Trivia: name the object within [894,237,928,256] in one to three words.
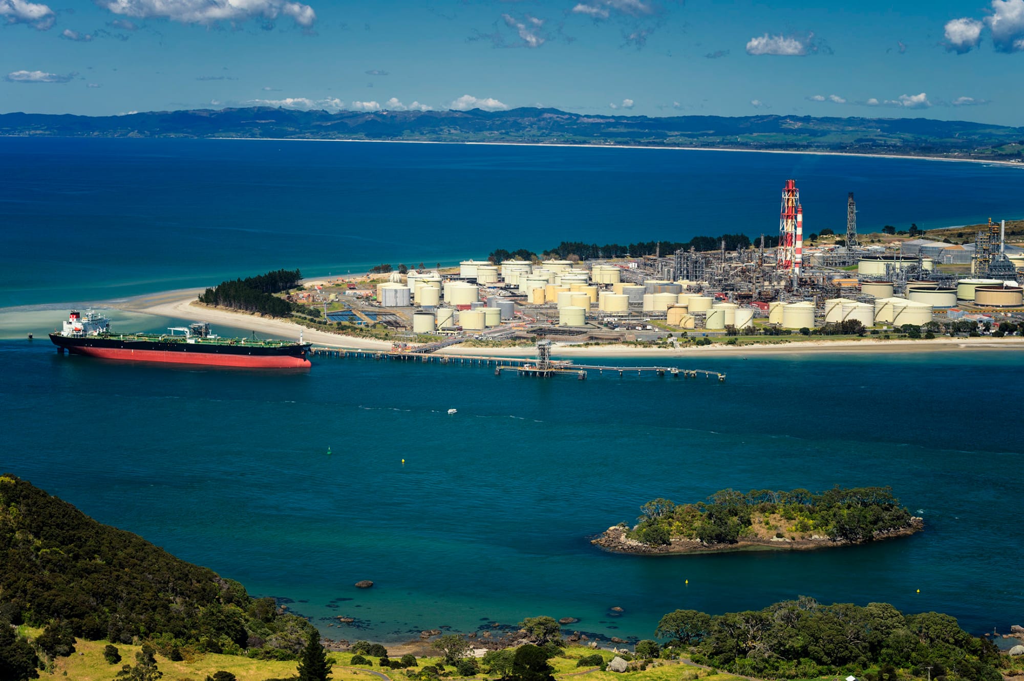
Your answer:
building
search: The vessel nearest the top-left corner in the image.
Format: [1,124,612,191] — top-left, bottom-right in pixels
[45,305,312,368]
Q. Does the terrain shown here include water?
Yes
